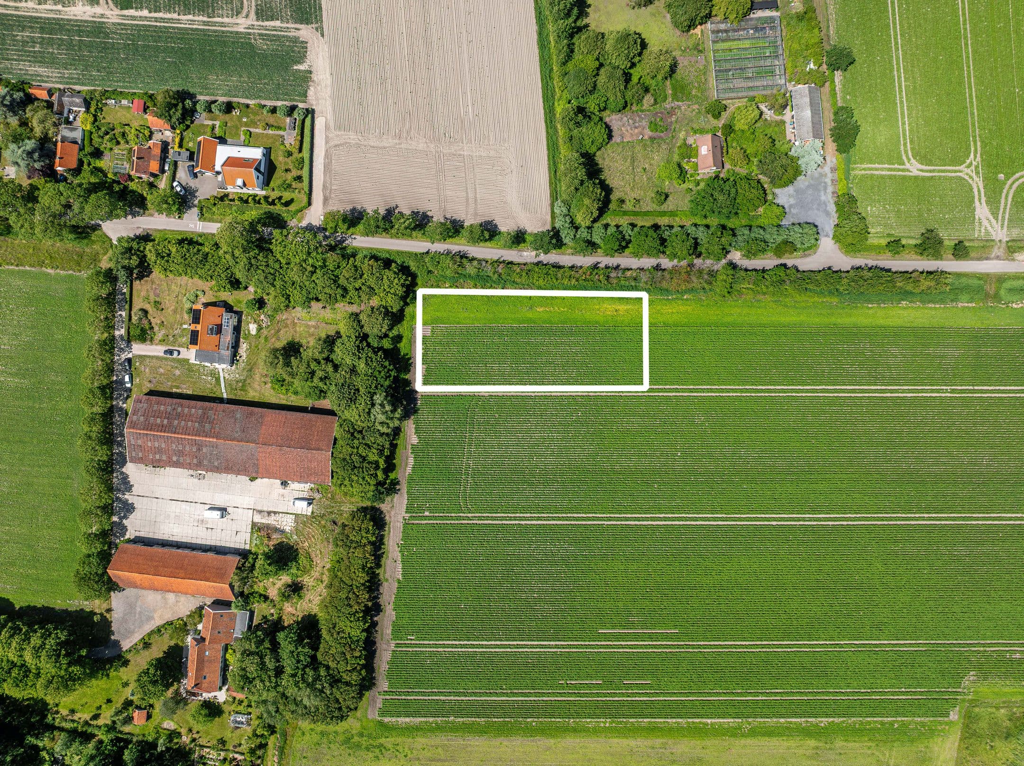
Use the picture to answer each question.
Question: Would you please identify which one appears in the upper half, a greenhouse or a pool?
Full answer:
The feature located in the upper half is a greenhouse.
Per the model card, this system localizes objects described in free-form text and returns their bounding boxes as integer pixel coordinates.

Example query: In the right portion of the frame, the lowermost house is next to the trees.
[694,134,722,172]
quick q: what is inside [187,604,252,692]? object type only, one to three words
house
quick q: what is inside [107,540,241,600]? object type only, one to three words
barn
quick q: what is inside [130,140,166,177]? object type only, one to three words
house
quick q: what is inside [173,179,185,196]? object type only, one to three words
vehicle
